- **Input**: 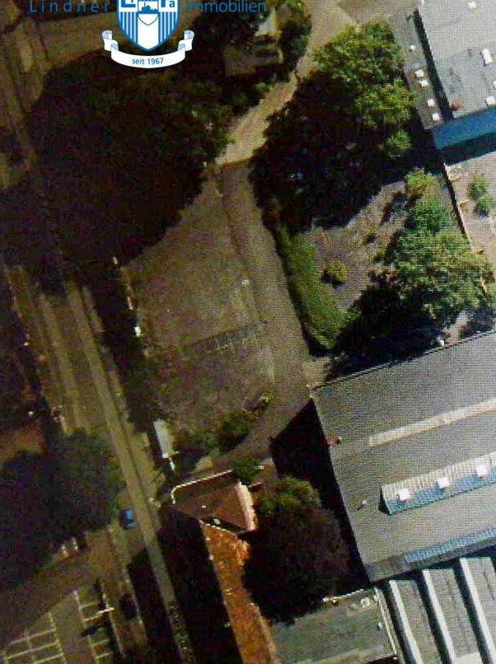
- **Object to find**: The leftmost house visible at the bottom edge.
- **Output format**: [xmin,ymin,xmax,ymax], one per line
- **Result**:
[189,523,278,664]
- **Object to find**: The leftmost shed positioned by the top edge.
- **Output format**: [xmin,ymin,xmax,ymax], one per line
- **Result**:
[247,7,284,48]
